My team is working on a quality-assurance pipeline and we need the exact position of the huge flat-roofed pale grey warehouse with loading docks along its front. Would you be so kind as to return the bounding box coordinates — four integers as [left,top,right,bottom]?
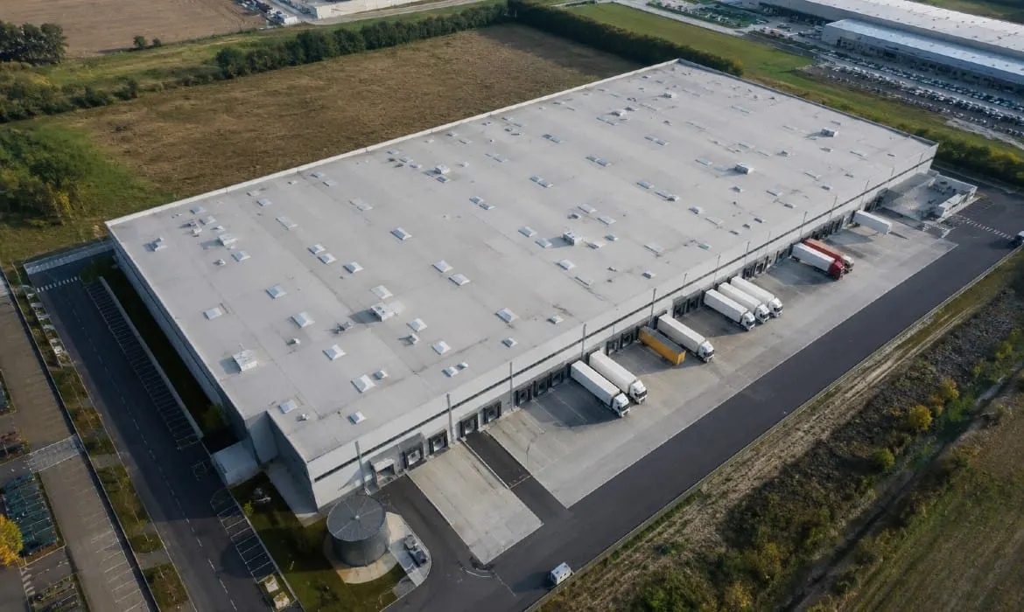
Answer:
[105,58,942,509]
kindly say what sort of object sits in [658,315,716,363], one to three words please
truck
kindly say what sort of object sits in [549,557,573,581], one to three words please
camper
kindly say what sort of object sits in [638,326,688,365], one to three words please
trailer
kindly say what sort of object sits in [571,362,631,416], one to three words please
truck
